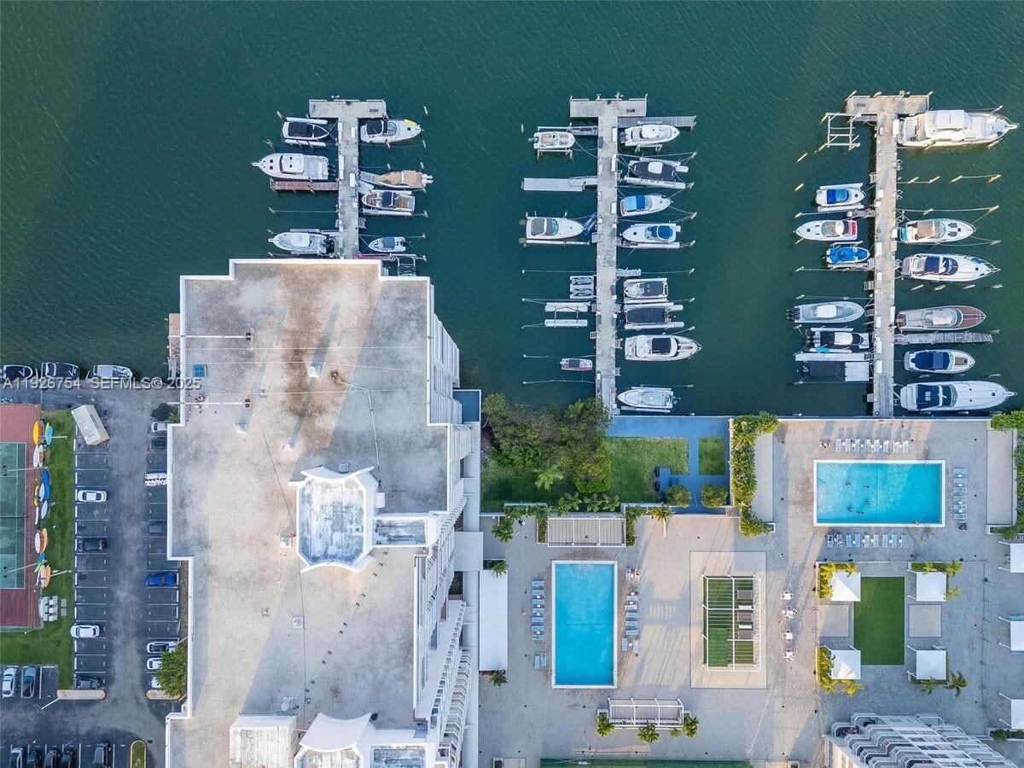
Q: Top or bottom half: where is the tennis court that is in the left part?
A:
bottom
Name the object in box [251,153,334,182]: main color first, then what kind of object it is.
white boat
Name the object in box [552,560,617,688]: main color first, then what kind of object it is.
blue swimming pool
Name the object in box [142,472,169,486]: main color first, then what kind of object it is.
white vehicle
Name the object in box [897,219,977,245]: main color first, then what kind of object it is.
white boat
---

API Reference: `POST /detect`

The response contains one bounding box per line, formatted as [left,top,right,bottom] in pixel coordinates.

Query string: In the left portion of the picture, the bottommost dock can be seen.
[166,313,181,380]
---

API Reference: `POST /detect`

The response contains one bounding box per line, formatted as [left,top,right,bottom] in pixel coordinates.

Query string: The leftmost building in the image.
[167,260,474,768]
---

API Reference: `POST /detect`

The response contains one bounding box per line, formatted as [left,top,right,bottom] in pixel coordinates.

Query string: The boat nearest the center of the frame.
[556,359,592,372]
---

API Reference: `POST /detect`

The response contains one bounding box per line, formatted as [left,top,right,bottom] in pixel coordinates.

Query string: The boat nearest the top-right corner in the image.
[895,109,1015,151]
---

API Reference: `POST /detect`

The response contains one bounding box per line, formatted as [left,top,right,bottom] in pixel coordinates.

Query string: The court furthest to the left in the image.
[0,404,43,634]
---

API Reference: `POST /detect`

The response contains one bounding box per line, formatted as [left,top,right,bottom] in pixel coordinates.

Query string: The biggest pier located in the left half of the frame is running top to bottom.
[309,92,387,260]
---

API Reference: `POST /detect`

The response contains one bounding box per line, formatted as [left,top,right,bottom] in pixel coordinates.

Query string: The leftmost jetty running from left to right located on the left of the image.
[272,180,338,193]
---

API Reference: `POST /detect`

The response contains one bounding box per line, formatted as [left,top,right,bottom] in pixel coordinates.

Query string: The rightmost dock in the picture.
[895,333,993,346]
